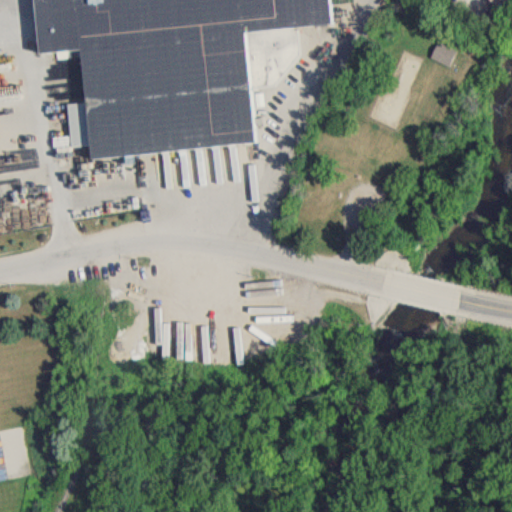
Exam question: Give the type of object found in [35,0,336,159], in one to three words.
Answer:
warehouse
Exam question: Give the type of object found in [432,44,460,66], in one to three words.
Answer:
house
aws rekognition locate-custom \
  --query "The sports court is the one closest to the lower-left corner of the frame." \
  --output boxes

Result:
[0,426,32,478]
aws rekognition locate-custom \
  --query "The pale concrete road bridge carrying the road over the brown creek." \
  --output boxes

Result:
[378,271,464,316]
